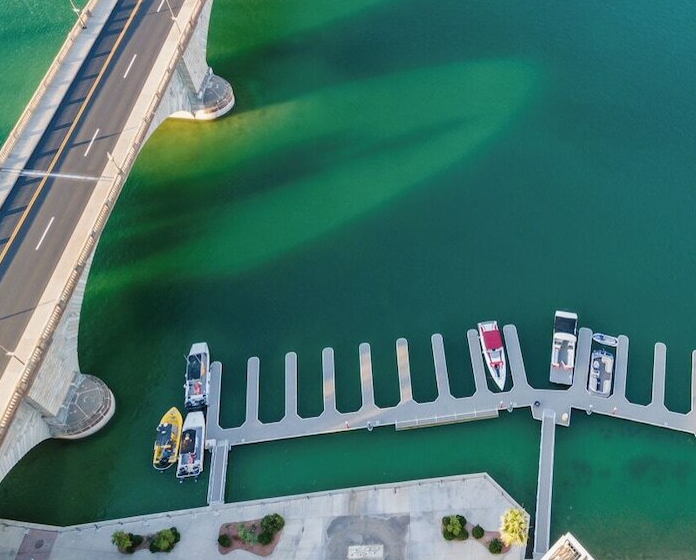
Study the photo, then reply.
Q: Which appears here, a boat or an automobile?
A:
boat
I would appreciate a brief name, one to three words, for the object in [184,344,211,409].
boat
